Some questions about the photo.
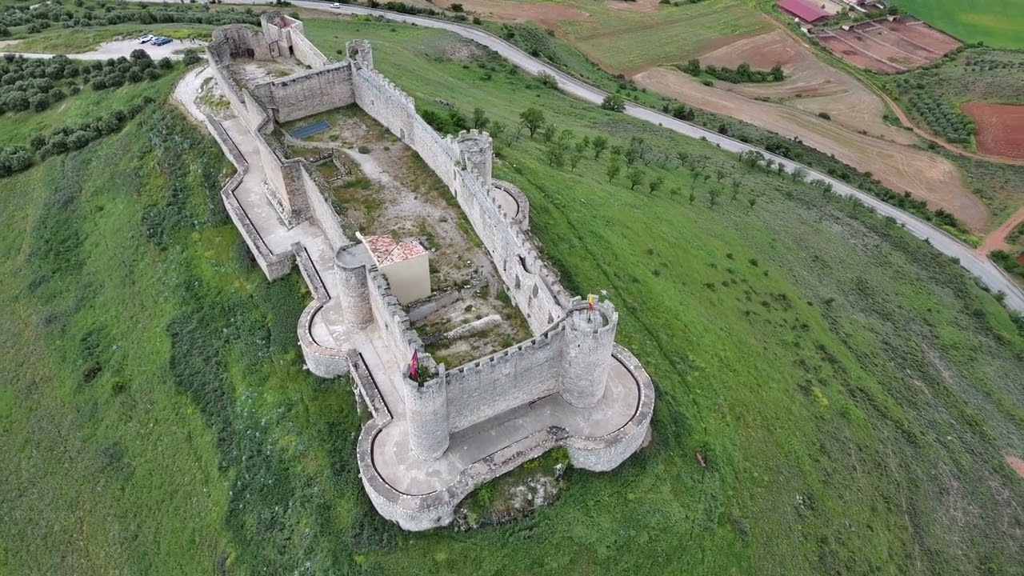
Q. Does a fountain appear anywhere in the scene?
No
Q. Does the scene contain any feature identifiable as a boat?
No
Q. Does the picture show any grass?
Yes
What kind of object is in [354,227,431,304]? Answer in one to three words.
house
